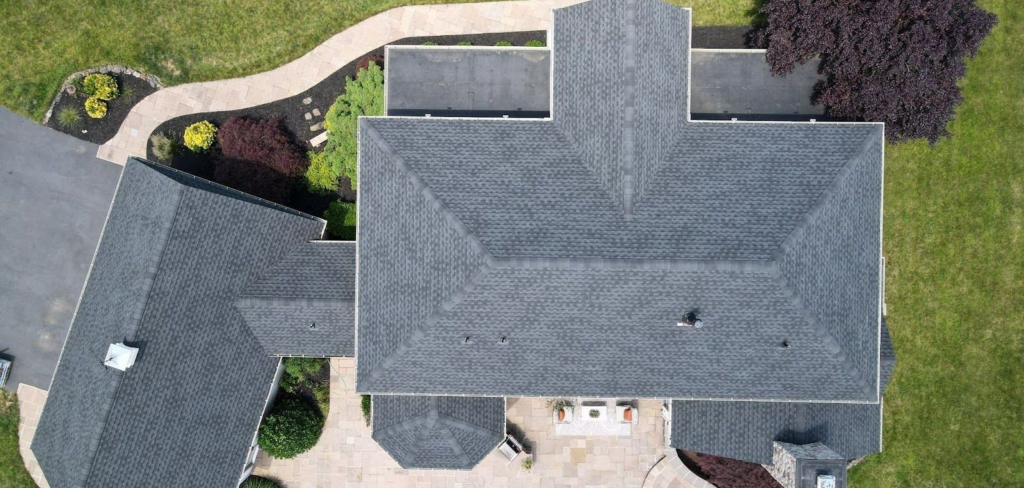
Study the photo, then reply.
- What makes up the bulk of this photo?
buildings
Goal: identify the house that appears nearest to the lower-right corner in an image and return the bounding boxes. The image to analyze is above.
[354,0,897,488]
